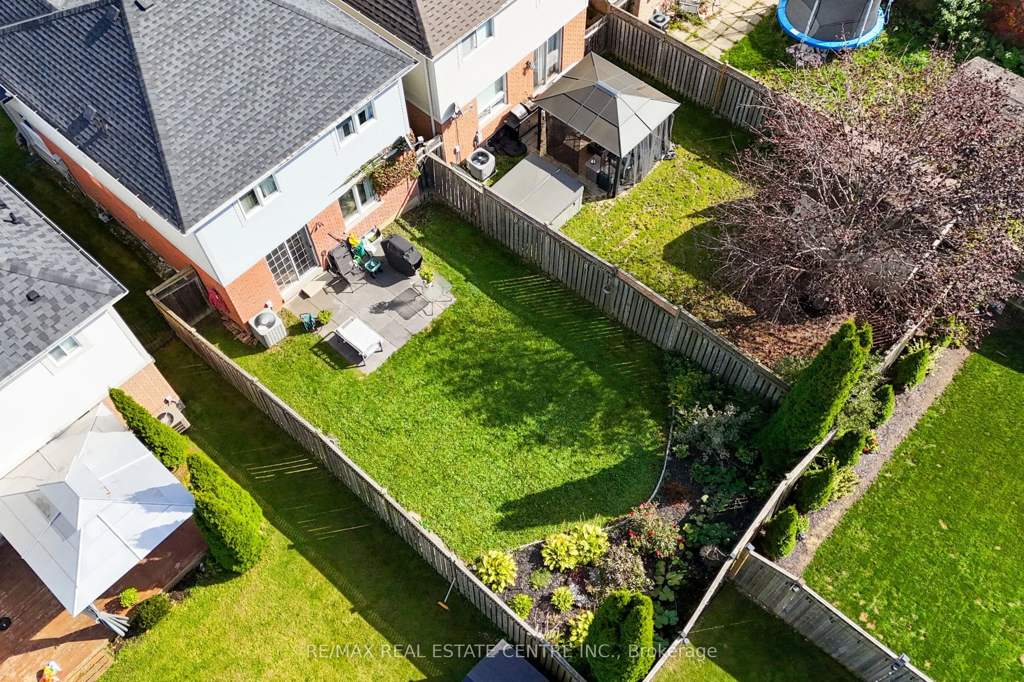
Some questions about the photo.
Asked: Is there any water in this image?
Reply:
No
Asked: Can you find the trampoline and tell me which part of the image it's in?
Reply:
top right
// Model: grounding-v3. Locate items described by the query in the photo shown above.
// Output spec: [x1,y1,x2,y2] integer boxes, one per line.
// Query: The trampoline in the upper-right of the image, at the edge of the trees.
[770,0,892,63]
